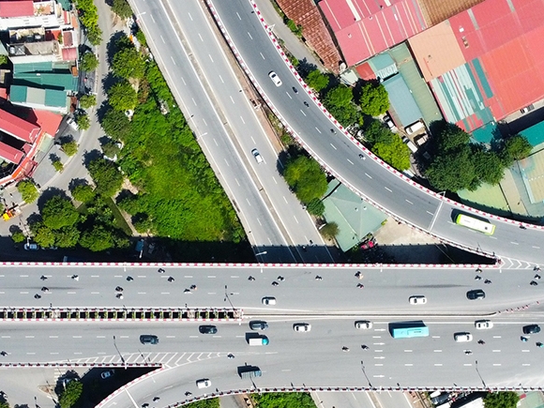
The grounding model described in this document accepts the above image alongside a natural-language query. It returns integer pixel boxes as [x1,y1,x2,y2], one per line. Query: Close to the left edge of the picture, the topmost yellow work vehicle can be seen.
[0,201,29,222]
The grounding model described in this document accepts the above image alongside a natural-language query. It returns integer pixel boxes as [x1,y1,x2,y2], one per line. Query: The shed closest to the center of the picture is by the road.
[323,186,388,253]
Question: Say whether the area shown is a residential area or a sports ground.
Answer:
residential area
